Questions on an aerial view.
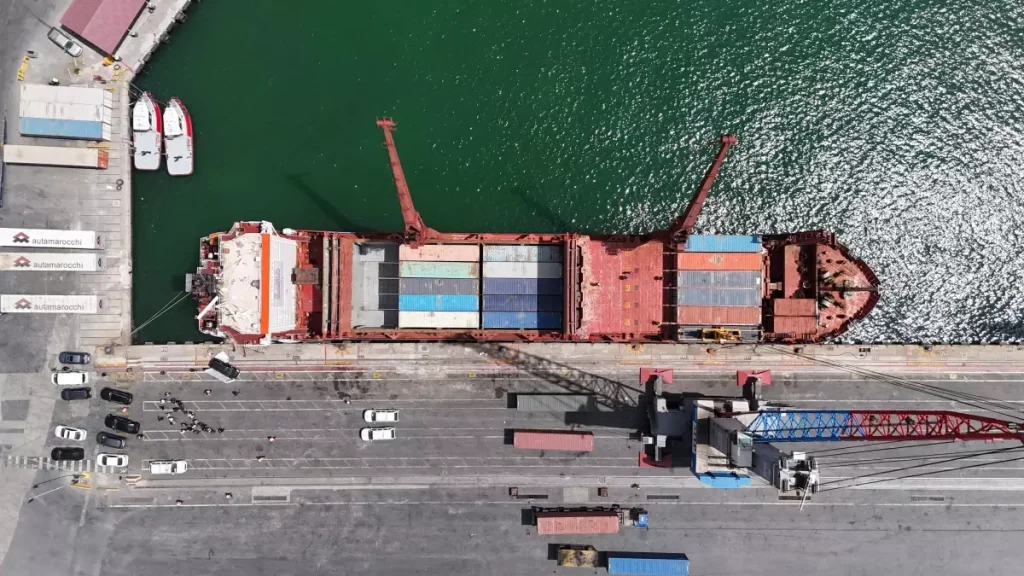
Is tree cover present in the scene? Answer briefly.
No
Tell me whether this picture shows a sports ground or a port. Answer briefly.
port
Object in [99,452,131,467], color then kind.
white car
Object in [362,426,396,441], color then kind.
white car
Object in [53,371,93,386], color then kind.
white vehicle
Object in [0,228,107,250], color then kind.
white trailer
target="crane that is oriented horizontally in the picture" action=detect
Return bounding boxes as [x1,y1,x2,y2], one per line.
[639,333,1024,514]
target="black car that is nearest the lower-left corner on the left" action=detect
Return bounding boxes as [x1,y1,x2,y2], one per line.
[53,446,87,460]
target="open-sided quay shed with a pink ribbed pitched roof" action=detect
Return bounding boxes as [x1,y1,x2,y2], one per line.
[61,0,153,56]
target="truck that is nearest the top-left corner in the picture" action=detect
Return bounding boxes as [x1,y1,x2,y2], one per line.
[50,28,85,58]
